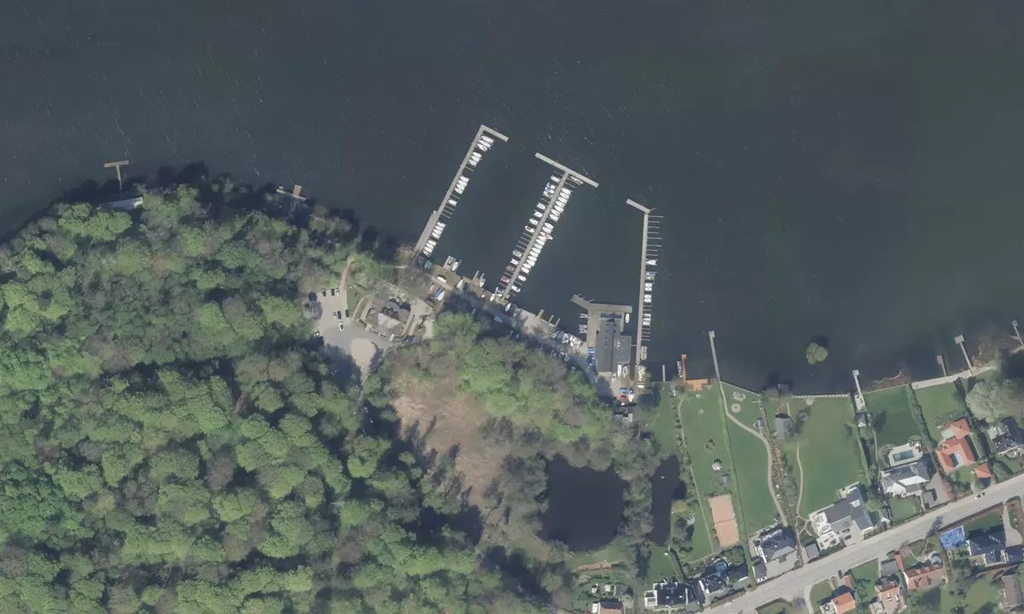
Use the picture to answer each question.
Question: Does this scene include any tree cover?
Yes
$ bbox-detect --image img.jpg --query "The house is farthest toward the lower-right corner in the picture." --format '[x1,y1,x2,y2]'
[1001,574,1023,606]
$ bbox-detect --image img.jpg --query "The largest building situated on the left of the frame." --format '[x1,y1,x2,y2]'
[365,302,410,340]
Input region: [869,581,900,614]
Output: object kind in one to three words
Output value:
house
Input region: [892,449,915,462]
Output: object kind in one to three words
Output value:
swimming pool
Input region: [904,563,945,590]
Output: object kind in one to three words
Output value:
house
